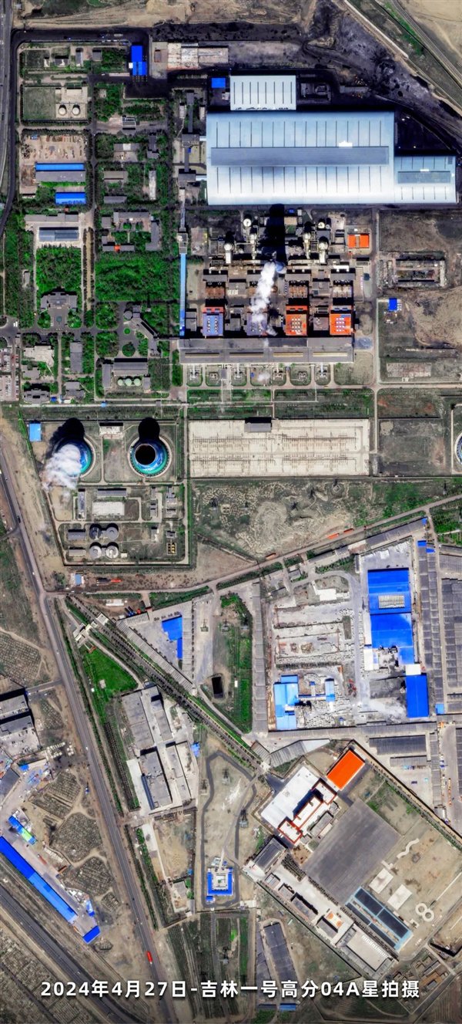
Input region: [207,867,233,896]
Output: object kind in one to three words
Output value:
building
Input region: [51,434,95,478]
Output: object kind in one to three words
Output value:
cooling tower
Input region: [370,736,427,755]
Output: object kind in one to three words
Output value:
shed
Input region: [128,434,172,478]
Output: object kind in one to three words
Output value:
cooling tower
